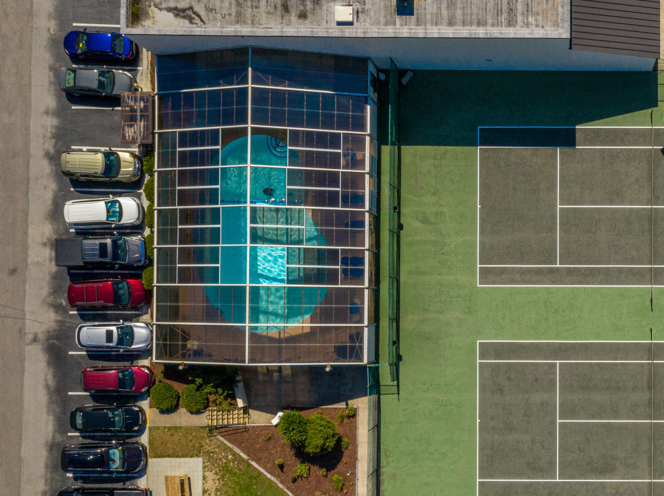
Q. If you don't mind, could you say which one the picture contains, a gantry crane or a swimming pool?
swimming pool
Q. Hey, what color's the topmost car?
blue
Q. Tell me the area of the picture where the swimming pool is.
center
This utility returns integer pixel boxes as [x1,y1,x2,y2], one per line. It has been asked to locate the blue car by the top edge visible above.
[65,23,138,61]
